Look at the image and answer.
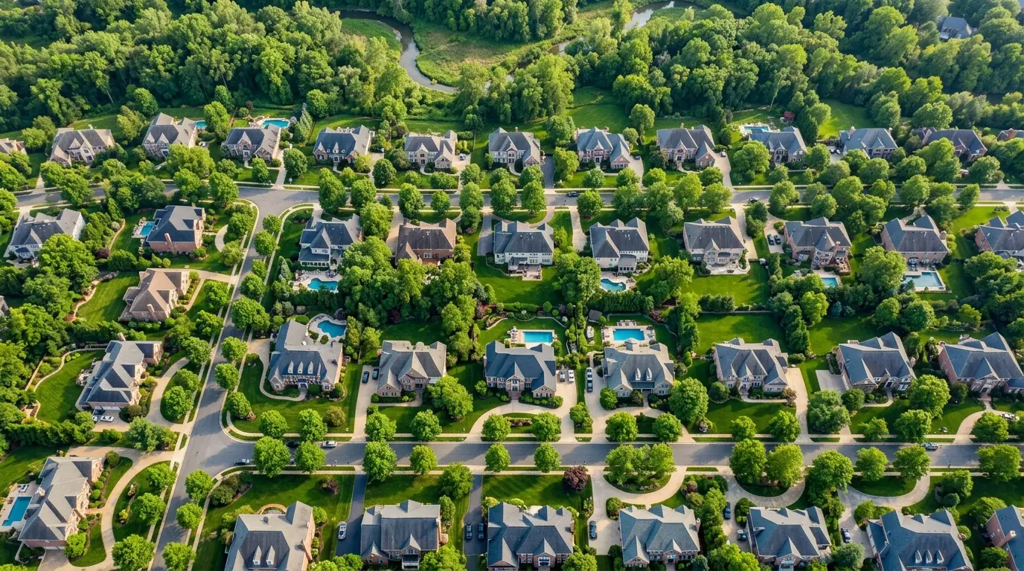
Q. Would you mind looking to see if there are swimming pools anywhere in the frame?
Yes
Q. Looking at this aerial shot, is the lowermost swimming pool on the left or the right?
left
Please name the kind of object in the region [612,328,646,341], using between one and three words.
swimming pool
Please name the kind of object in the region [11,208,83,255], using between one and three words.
house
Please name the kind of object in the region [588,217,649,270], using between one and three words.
house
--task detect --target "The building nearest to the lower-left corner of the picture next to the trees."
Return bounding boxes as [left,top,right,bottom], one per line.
[18,453,107,548]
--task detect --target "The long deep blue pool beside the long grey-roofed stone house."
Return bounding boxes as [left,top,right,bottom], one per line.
[0,495,34,527]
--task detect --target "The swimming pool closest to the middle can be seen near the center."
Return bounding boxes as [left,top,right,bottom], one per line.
[522,331,554,343]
